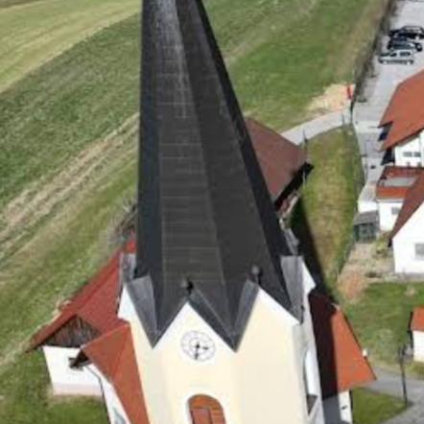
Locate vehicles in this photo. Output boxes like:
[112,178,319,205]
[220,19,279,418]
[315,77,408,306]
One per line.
[389,35,424,50]
[379,47,416,64]
[391,24,424,39]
